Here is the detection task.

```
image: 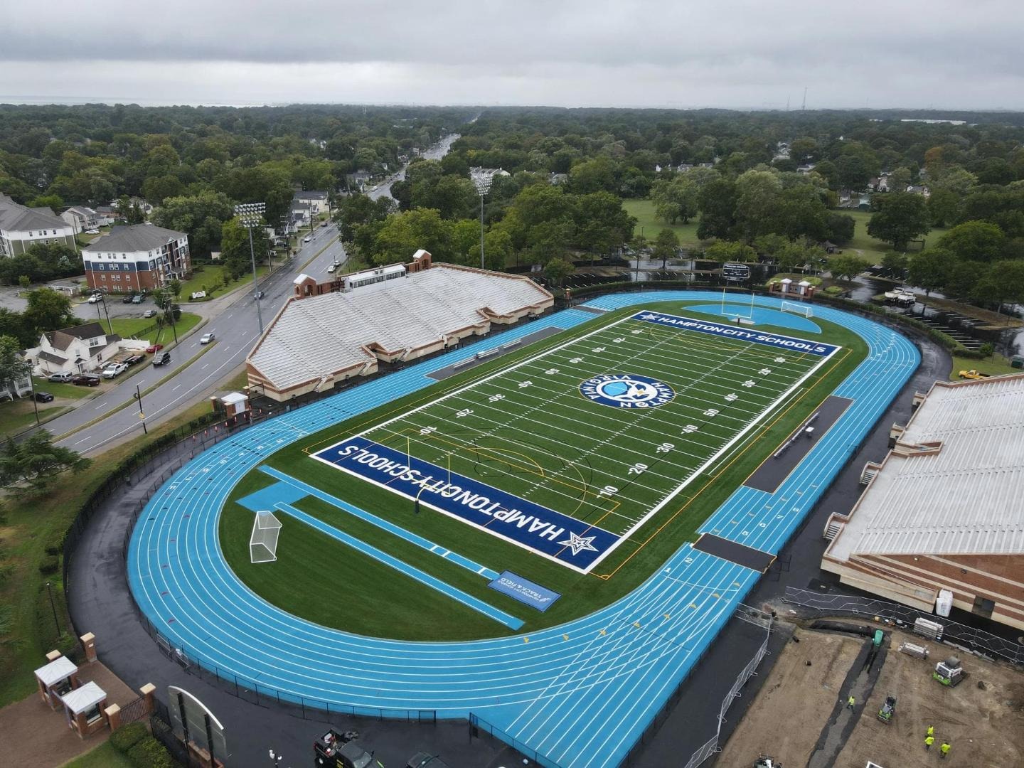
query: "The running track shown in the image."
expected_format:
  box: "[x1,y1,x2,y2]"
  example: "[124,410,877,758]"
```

[131,291,920,768]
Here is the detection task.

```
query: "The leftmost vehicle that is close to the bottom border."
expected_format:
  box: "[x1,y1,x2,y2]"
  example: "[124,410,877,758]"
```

[312,726,380,768]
